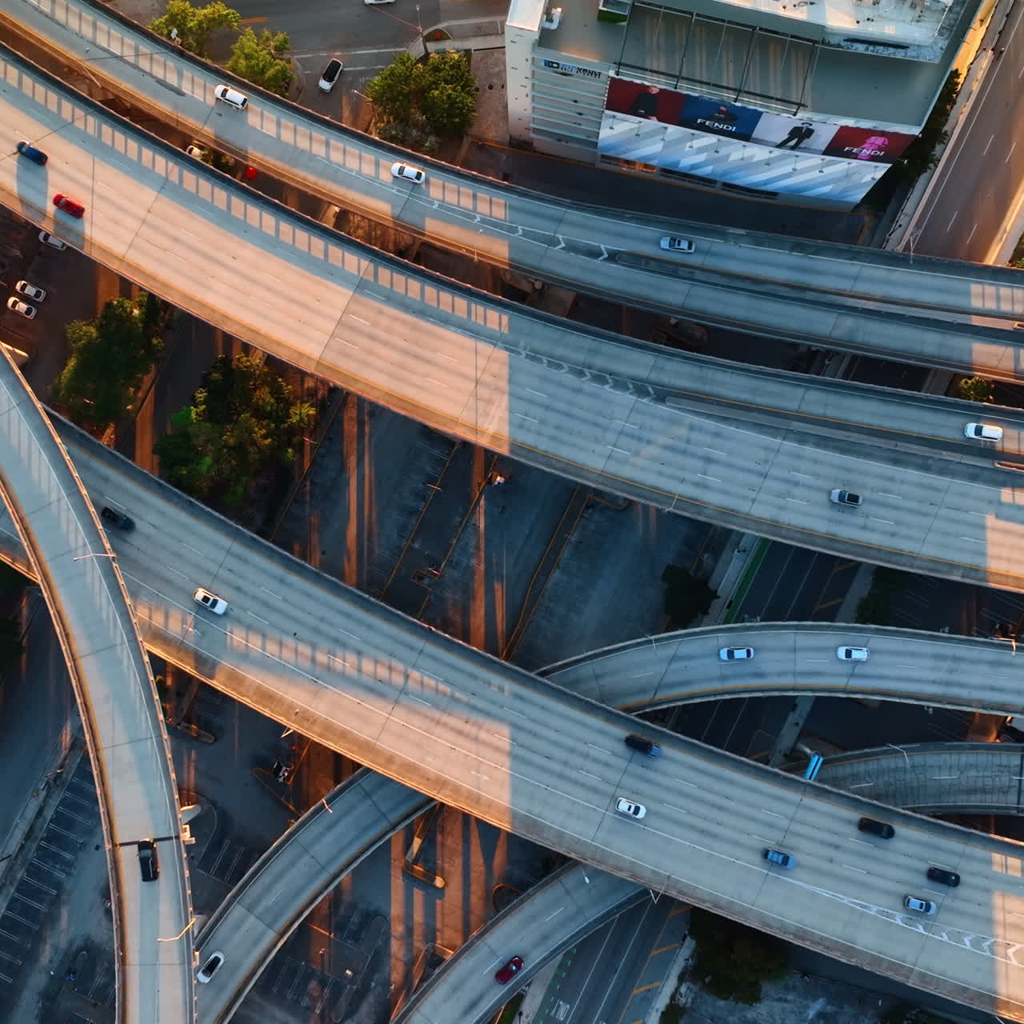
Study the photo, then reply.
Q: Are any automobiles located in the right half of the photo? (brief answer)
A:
Yes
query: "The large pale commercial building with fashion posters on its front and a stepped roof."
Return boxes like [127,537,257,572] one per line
[507,0,988,213]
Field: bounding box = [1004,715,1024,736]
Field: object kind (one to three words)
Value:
car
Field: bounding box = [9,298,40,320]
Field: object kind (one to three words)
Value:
car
